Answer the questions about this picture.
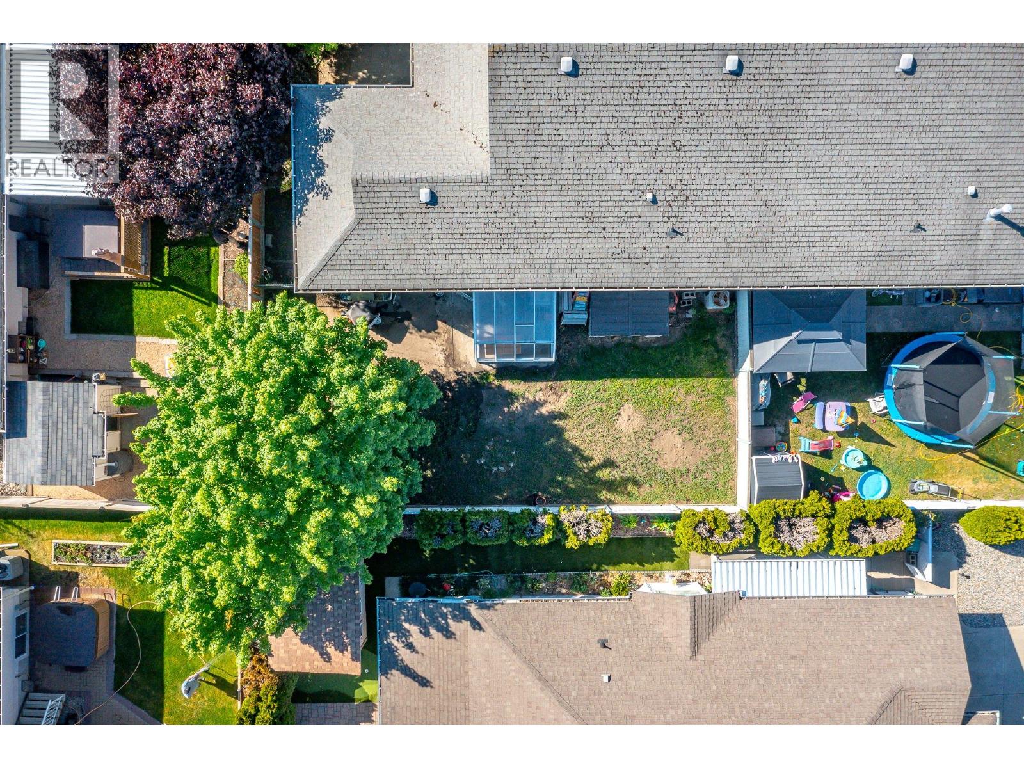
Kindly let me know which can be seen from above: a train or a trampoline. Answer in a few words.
trampoline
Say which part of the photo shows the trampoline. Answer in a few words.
right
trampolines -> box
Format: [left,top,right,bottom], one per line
[875,332,1021,448]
